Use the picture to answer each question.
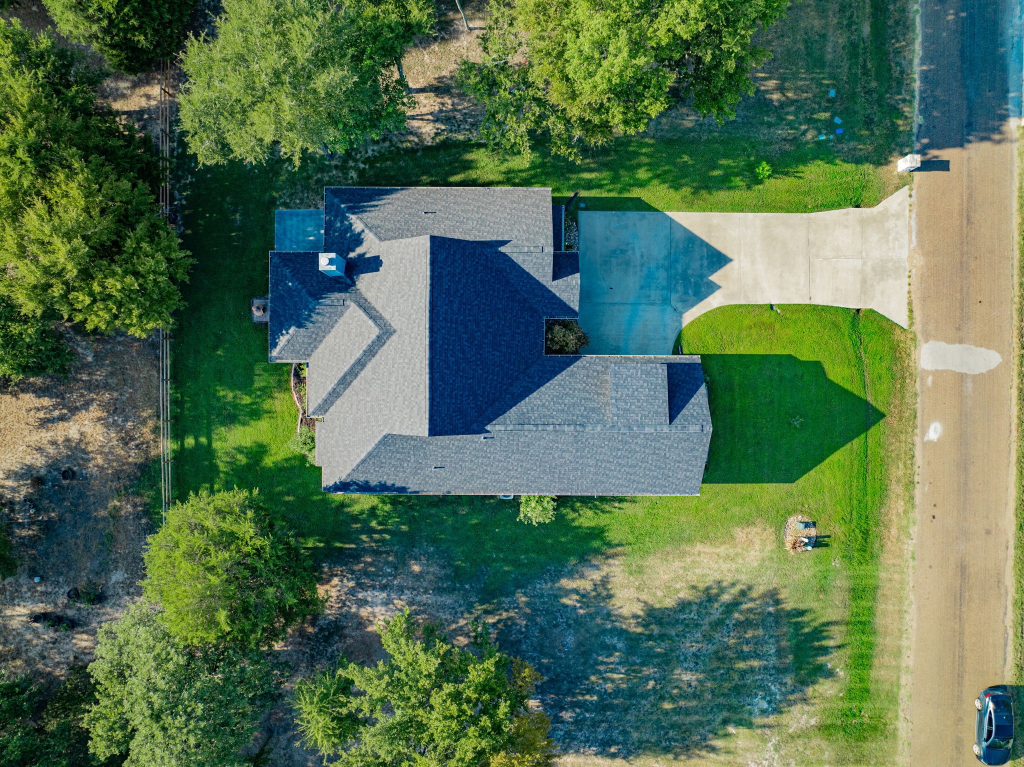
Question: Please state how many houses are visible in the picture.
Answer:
1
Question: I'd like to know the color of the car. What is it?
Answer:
blue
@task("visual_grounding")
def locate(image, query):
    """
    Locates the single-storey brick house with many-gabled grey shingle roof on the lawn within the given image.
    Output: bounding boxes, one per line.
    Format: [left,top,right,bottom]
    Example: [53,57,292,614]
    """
[267,185,712,498]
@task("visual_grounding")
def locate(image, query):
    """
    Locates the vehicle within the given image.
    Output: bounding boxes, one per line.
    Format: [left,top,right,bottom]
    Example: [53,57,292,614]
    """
[974,688,1020,767]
